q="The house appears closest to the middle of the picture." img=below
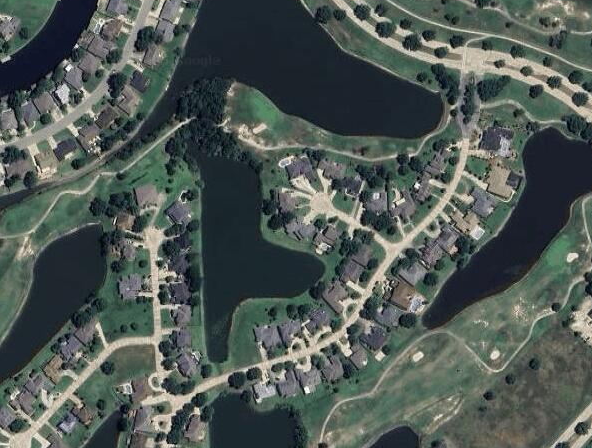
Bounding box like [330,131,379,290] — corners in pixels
[284,216,317,238]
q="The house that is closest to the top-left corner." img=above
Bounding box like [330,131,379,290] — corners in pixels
[0,12,21,40]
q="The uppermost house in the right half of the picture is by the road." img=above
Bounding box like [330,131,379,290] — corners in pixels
[475,126,505,155]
